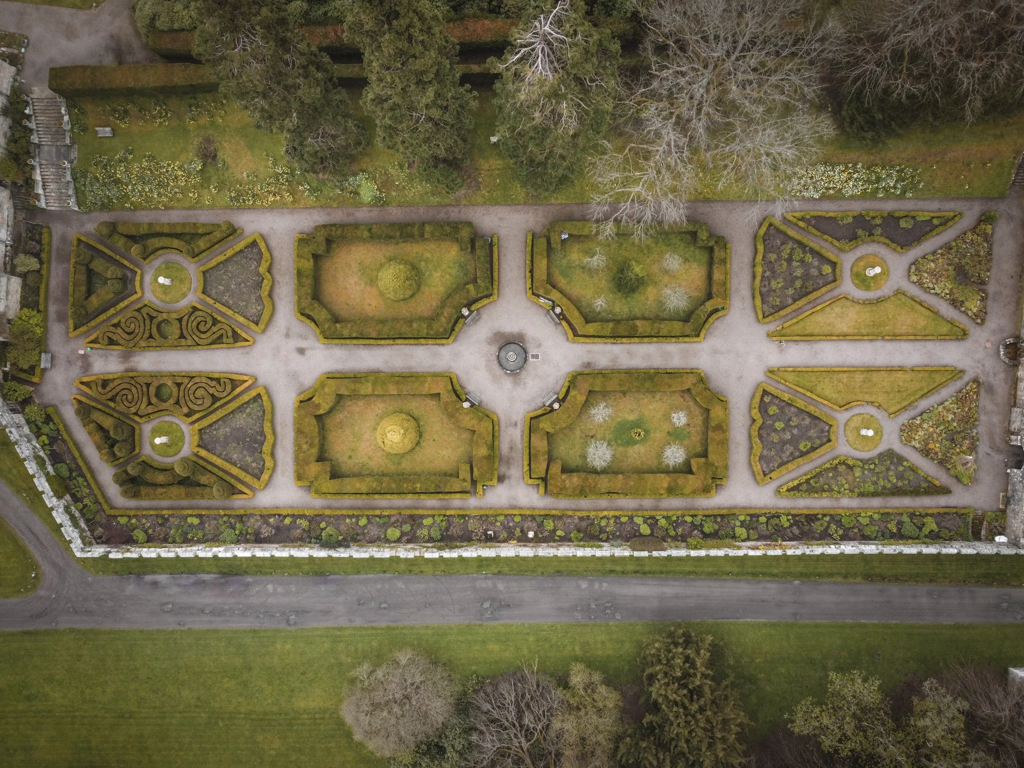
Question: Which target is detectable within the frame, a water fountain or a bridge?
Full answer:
Of the two, only a water fountain appears.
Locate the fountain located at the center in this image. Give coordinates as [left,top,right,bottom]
[496,340,529,373]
